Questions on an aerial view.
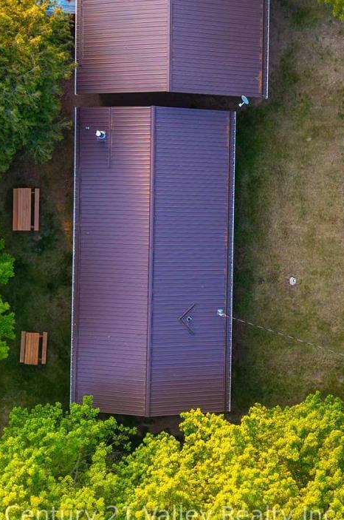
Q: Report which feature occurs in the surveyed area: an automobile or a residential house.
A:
residential house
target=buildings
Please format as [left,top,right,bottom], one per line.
[72,0,270,98]
[67,105,238,415]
